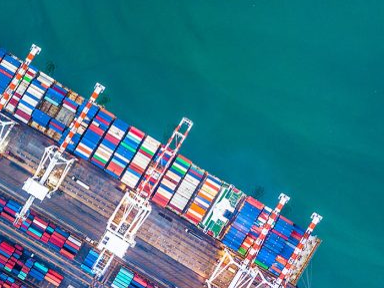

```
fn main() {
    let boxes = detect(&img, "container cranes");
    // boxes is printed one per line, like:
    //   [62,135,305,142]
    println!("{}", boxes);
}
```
[92,118,193,273]
[0,42,40,156]
[245,212,324,288]
[15,81,106,225]
[201,192,290,288]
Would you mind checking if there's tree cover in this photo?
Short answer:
No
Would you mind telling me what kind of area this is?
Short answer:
port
